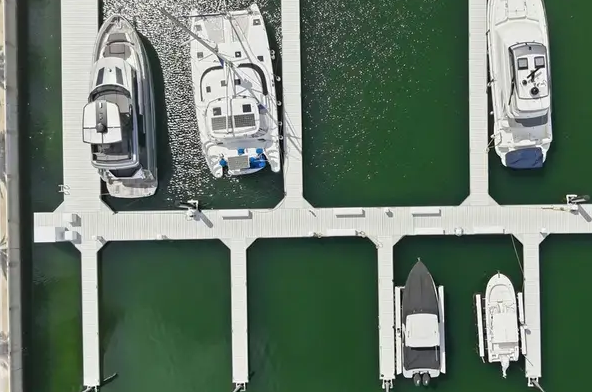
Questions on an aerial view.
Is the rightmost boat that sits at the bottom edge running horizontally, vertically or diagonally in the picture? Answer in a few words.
vertically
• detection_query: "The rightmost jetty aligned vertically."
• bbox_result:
[513,233,550,386]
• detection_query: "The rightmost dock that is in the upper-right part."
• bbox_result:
[462,0,502,206]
